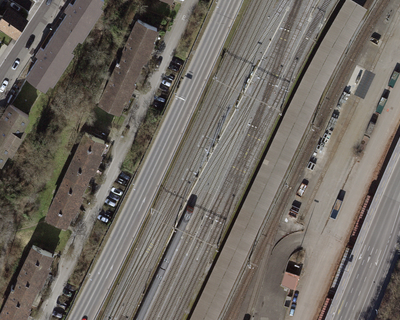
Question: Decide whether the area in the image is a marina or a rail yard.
rail yard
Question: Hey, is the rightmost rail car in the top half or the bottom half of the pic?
bottom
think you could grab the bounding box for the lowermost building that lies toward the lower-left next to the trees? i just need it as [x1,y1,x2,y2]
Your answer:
[0,244,52,320]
